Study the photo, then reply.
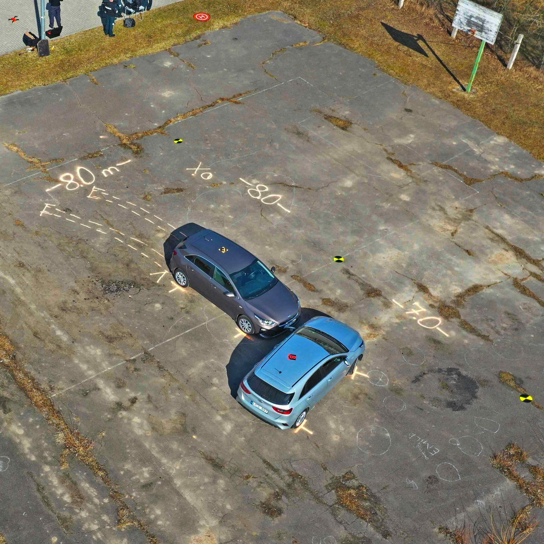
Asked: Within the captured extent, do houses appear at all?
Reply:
No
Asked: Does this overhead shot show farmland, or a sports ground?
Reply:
sports ground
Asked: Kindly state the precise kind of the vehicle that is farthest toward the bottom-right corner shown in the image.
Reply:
automobile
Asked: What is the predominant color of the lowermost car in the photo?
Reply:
blue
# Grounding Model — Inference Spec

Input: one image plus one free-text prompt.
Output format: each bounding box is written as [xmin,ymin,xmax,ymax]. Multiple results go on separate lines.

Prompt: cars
[235,318,364,430]
[170,230,304,336]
